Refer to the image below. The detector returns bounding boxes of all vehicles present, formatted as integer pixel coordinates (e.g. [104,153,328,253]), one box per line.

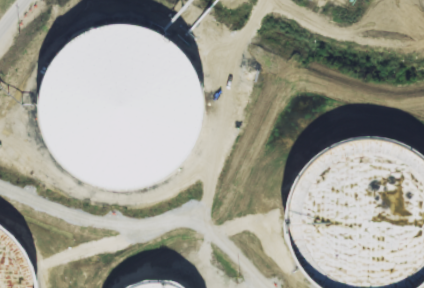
[213,89,222,98]
[226,75,232,88]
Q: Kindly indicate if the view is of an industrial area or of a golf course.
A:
industrial area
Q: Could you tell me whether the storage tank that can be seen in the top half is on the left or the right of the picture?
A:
left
